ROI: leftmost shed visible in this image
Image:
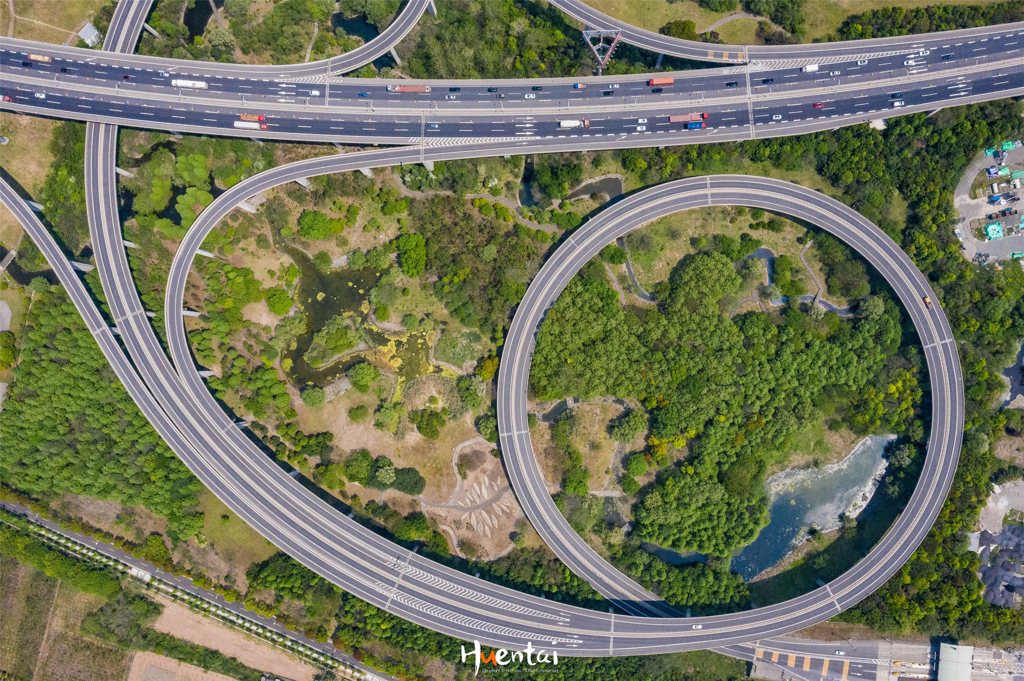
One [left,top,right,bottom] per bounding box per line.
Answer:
[78,22,105,49]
